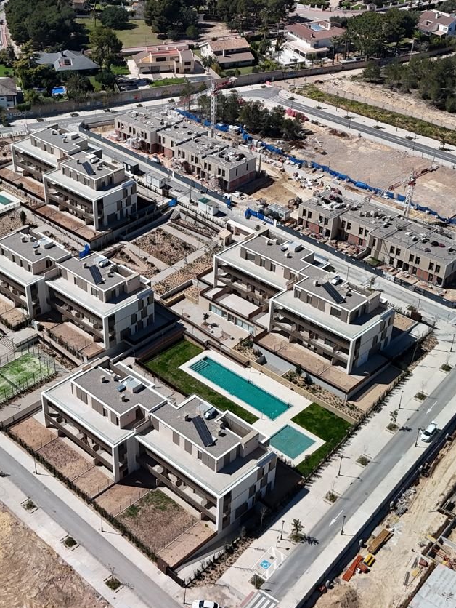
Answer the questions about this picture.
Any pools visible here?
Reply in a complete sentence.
Yes, a pool can be made out from above.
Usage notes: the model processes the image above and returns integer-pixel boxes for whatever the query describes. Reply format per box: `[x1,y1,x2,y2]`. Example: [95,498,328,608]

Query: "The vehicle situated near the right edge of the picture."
[421,423,437,439]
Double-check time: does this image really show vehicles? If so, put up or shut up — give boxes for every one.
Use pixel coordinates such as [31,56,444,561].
[192,600,219,608]
[421,423,437,439]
